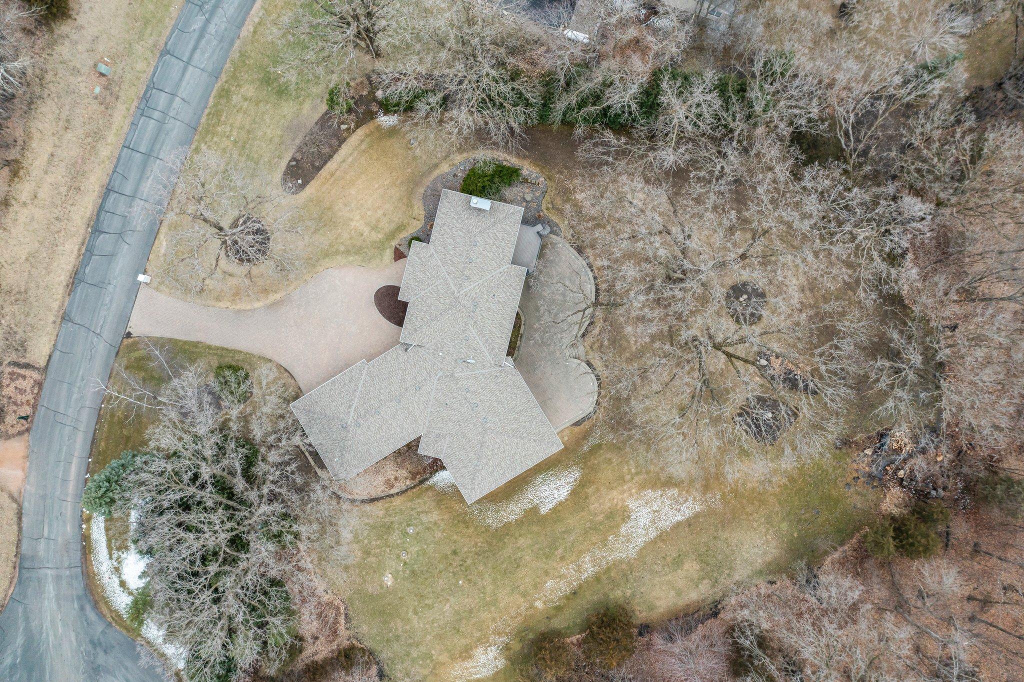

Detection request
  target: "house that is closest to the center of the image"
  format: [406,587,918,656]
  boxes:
[290,188,564,505]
